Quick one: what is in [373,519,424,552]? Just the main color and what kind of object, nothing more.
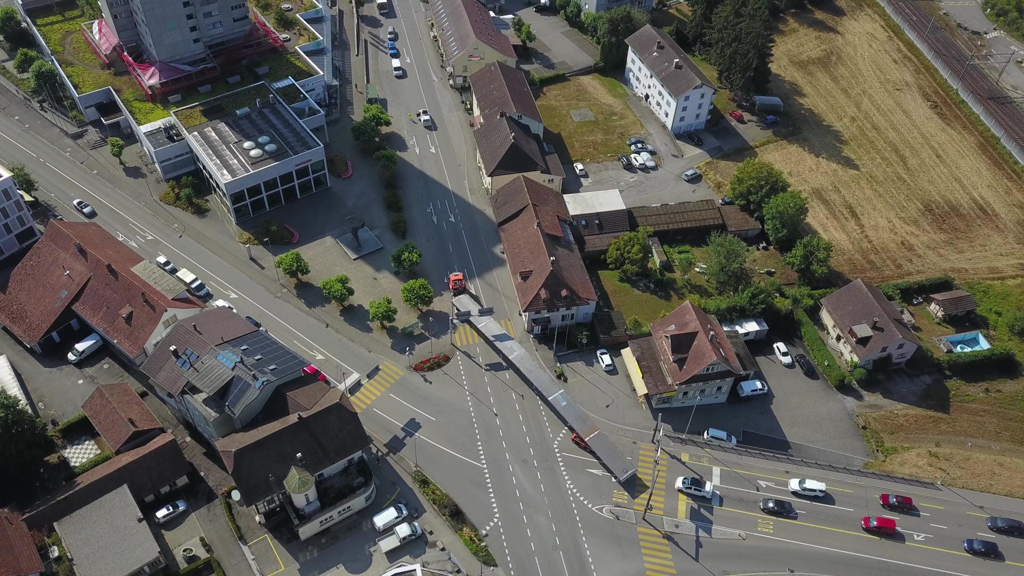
white truck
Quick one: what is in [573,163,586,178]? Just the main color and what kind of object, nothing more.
white vehicle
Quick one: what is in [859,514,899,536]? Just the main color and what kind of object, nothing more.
red vehicle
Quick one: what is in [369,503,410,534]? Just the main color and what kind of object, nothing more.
white van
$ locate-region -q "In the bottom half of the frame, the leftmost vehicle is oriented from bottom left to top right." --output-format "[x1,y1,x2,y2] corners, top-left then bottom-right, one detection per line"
[66,331,103,361]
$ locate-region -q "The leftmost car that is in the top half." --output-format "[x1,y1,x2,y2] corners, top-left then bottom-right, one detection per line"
[72,200,96,217]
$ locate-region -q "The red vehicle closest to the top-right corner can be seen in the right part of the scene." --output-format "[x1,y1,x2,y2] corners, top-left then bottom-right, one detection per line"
[728,111,744,123]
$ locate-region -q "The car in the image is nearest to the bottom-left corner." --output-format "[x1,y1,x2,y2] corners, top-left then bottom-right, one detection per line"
[149,497,192,525]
